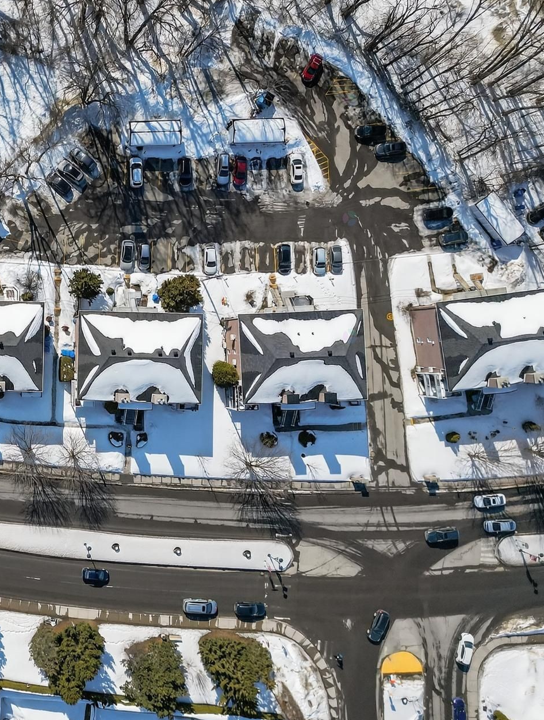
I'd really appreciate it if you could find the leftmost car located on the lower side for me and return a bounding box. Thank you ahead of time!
[81,568,109,583]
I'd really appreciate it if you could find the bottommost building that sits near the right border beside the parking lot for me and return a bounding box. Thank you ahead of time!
[416,290,544,412]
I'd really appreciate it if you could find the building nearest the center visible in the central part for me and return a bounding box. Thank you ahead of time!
[226,308,368,426]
